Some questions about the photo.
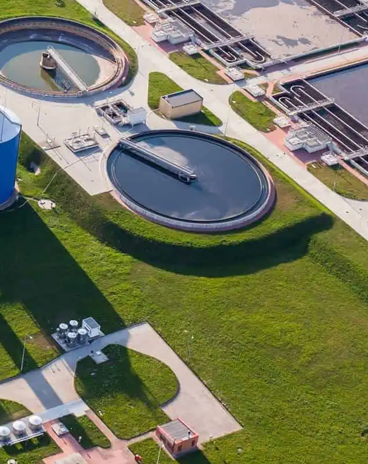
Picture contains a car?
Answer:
No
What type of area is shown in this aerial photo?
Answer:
industrial area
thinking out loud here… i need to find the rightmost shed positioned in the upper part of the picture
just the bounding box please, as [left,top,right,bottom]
[160,88,204,118]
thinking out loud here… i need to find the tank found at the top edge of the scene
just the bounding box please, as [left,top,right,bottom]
[0,12,130,99]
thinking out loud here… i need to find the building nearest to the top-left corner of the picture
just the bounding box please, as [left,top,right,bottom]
[118,100,147,124]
